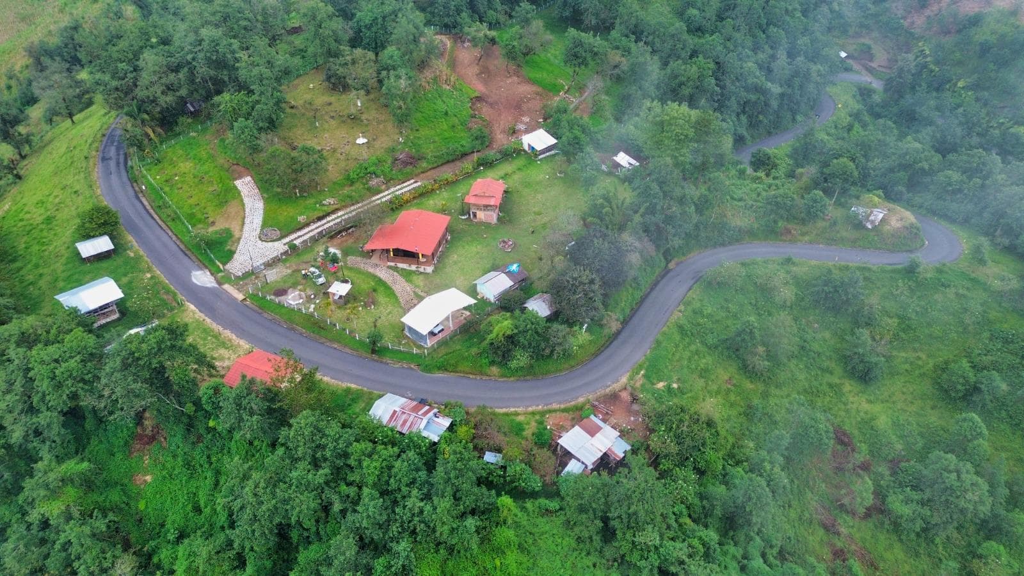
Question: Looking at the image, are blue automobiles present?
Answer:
No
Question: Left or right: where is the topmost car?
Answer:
left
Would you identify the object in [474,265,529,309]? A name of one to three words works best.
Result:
shed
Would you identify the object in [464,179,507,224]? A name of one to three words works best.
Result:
house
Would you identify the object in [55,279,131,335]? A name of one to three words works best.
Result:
building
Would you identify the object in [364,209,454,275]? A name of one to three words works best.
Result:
house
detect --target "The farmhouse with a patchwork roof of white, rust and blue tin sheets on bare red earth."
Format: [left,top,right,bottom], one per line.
[558,414,632,481]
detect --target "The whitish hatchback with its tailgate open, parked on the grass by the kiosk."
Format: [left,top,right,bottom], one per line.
[301,259,327,285]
